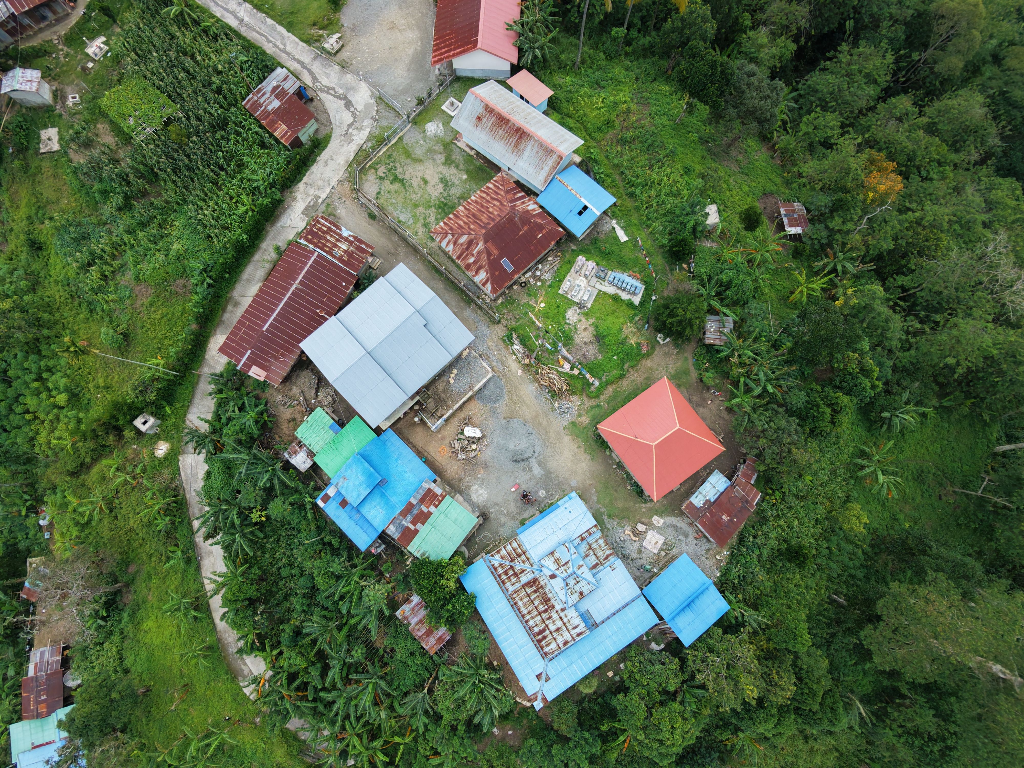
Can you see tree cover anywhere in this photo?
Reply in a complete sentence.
Yes, the picture does contain tree cover.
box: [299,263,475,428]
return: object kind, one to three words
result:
building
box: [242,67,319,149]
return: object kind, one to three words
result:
house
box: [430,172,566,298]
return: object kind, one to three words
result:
house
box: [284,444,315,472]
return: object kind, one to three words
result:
shed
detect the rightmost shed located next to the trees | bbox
[772,199,809,239]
